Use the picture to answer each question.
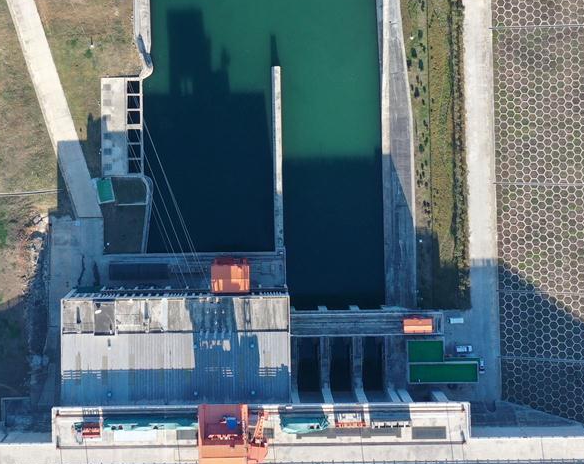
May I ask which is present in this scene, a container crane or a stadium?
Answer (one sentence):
Looking from above, you can make out a container crane.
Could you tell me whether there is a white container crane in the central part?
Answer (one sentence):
No, no white container crane is visible in the central part.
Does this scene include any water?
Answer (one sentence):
Yes, there's water in this view.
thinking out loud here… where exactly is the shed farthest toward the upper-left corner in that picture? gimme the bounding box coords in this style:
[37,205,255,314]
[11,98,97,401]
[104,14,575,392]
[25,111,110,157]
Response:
[96,174,118,205]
